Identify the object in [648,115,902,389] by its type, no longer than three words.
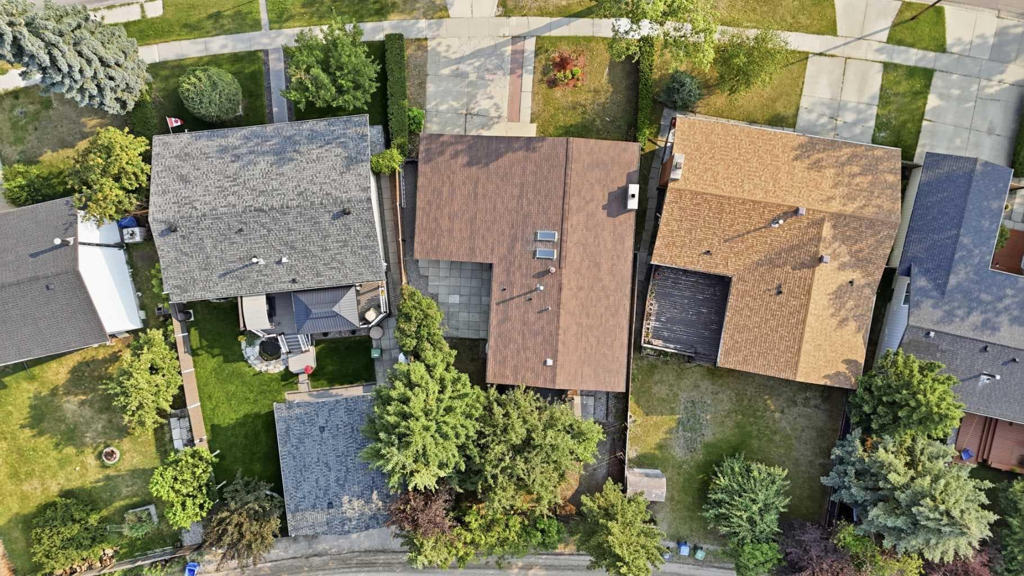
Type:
house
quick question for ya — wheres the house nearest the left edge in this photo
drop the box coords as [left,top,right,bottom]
[0,196,141,367]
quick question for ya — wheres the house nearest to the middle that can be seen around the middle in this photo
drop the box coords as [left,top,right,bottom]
[413,132,642,392]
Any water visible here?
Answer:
No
